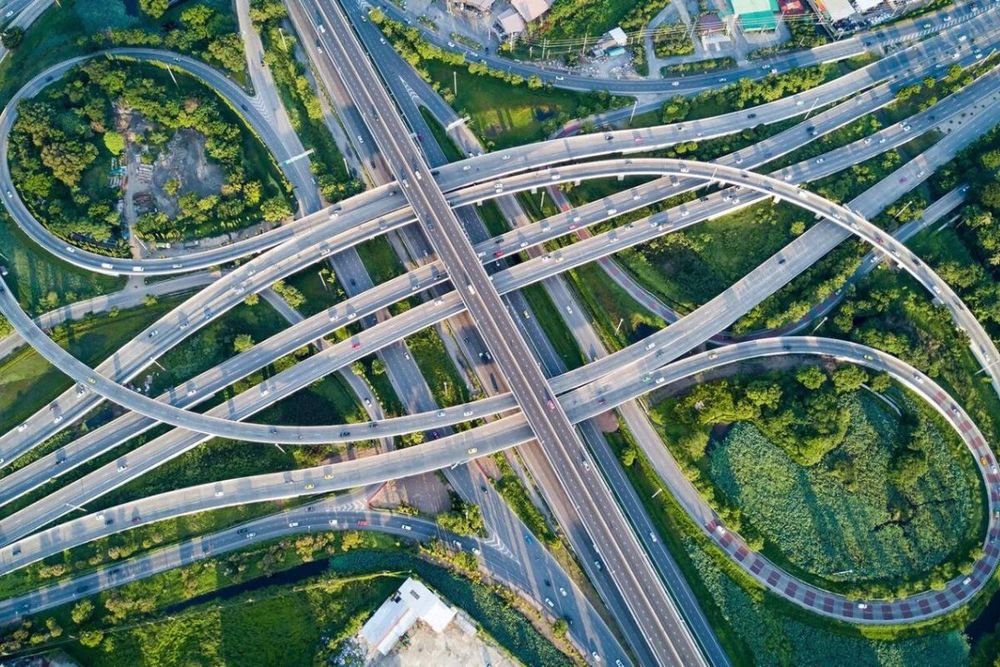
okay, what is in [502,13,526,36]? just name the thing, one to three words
house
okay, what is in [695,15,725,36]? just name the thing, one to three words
house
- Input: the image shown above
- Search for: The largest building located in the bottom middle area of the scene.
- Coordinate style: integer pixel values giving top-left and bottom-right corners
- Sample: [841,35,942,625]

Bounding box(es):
[359,577,456,655]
